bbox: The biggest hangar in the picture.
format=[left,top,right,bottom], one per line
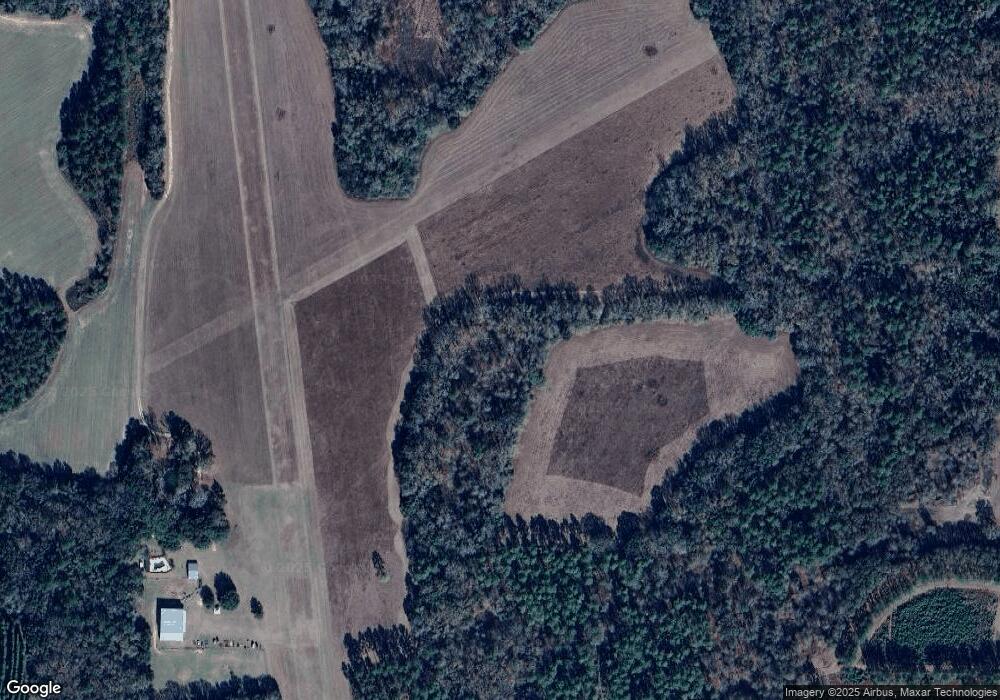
[160,608,187,641]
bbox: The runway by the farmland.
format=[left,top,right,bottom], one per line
[144,0,723,700]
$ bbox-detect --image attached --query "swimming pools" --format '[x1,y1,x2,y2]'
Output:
[149,557,171,572]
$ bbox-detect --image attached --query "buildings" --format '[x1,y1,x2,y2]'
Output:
[188,563,198,580]
[160,608,187,641]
